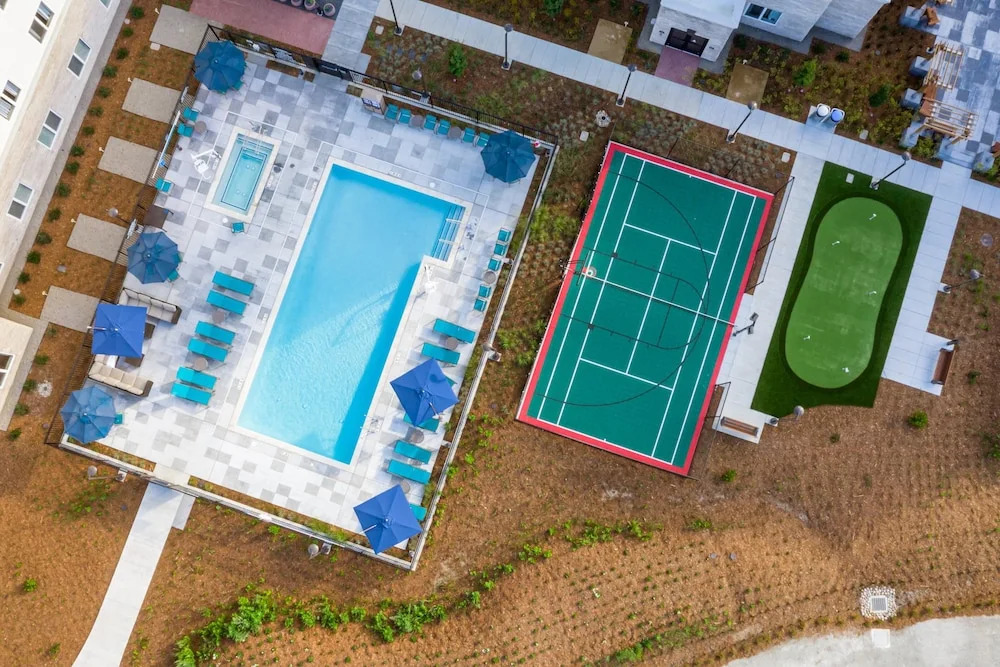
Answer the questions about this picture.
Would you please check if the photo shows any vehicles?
No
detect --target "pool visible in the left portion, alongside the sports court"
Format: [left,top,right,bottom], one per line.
[225,156,476,478]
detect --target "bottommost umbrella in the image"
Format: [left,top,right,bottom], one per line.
[354,483,423,555]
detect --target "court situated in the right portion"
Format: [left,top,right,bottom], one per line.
[518,142,774,478]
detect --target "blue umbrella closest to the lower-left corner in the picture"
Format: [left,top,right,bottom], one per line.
[60,385,118,444]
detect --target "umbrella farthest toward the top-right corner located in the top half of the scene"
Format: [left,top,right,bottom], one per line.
[479,129,536,184]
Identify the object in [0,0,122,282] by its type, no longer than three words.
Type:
building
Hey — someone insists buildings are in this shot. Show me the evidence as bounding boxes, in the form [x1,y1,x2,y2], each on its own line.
[0,0,122,282]
[650,0,892,62]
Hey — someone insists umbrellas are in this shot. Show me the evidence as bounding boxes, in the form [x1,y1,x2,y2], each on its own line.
[479,129,536,184]
[193,40,246,92]
[390,357,459,431]
[85,306,148,357]
[60,385,118,444]
[354,483,423,555]
[125,229,182,285]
